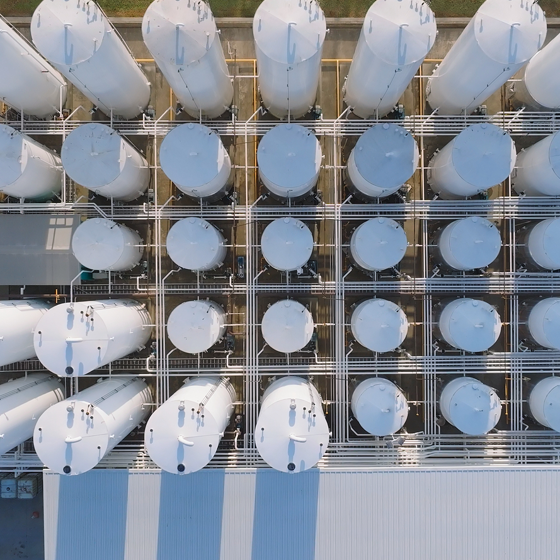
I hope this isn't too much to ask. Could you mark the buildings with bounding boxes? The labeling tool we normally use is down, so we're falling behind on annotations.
[0,214,88,292]
[42,466,560,560]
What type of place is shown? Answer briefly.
industrial area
